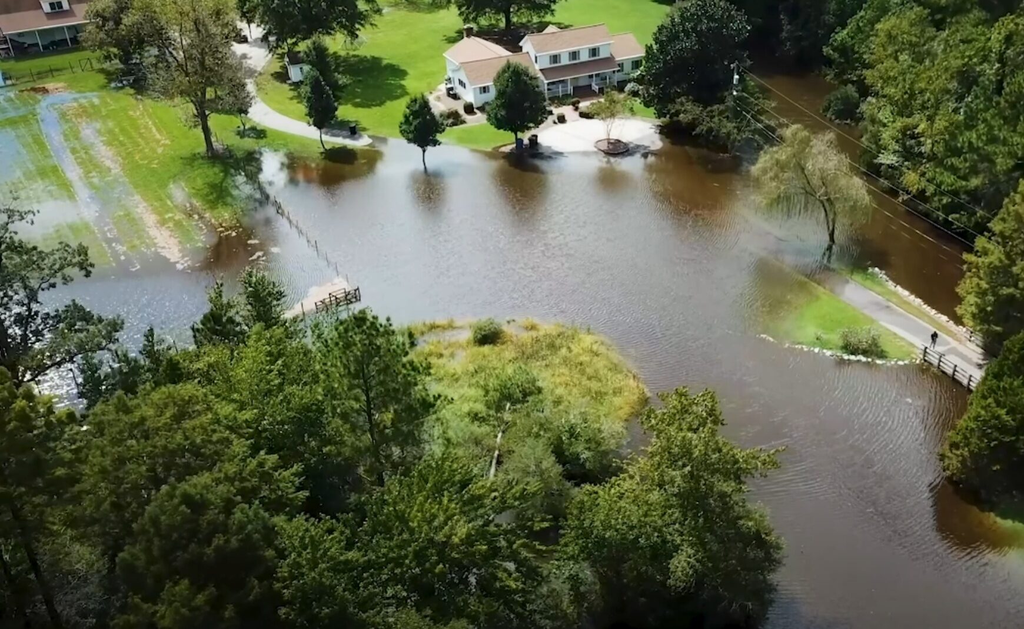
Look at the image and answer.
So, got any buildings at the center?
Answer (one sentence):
No, no building is visible at the center.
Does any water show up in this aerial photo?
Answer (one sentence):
Yes, there's water in this view.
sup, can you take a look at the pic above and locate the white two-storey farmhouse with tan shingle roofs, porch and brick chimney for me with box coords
[437,20,648,106]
